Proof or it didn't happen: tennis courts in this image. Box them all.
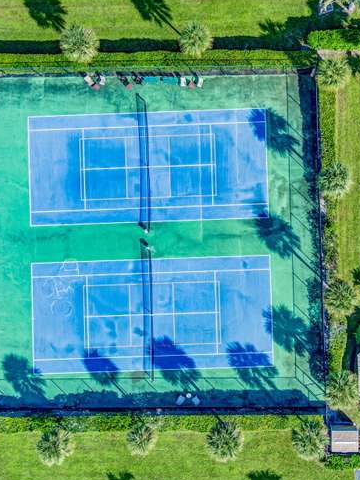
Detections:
[32,256,273,374]
[28,109,269,226]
